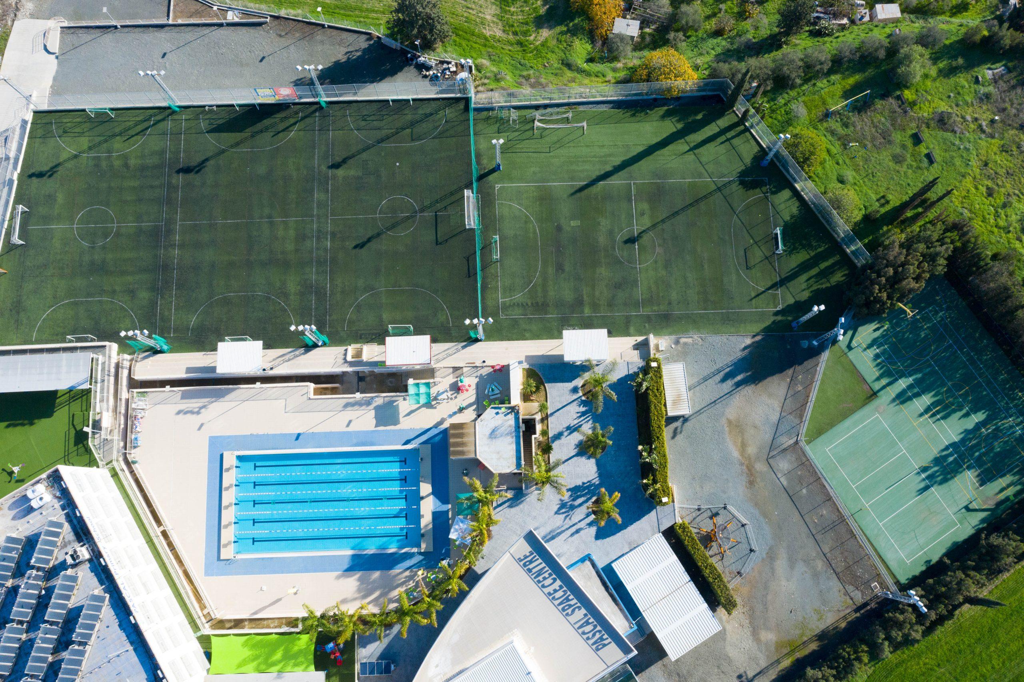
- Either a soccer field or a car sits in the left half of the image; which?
soccer field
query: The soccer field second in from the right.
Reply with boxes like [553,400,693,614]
[321,98,481,347]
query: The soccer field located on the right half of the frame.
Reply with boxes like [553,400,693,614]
[473,102,860,342]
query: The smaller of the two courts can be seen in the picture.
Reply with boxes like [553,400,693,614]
[808,338,975,584]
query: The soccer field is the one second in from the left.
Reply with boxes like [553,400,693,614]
[165,102,324,352]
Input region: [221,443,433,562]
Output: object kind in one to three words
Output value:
swimming pool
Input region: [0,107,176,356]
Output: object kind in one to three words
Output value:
soccer field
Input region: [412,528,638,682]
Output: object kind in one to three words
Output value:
building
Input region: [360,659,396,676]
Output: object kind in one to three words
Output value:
solar array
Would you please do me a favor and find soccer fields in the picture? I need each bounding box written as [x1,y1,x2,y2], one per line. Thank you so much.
[473,102,860,342]
[165,102,324,352]
[321,98,481,347]
[0,107,176,356]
